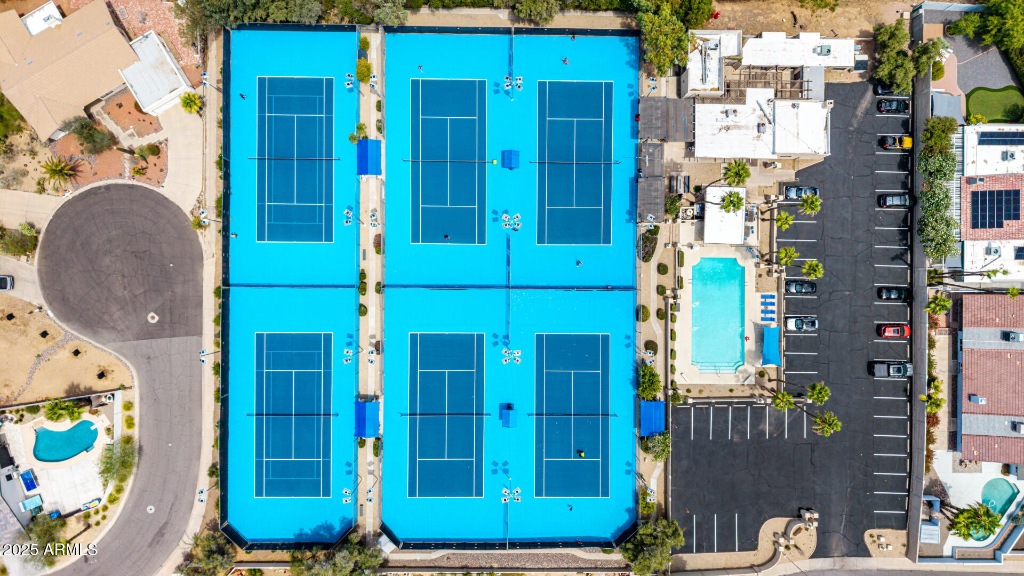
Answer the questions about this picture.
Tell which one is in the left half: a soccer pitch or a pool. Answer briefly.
pool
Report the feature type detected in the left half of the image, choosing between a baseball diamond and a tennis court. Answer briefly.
tennis court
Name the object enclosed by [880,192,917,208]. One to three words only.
car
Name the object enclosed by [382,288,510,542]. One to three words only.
tennis court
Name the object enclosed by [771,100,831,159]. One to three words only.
building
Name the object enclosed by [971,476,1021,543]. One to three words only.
swimming pool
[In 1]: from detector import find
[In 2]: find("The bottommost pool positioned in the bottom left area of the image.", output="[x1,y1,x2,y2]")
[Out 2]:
[31,418,99,463]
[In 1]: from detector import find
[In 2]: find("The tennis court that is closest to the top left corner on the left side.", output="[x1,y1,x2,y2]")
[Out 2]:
[229,30,360,287]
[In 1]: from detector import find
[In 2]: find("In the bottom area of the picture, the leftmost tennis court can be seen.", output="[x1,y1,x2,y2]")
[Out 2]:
[228,286,359,543]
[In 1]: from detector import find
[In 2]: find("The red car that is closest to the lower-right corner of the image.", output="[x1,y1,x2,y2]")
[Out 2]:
[880,324,913,339]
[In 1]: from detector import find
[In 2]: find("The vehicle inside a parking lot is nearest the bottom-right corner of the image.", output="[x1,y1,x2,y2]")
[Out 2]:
[872,362,914,378]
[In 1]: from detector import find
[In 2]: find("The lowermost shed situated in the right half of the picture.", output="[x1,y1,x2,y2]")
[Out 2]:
[920,520,940,544]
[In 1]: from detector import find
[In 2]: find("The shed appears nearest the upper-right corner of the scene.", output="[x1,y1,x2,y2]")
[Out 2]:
[924,23,943,45]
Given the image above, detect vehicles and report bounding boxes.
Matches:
[880,324,913,339]
[880,192,917,208]
[877,82,912,96]
[879,97,912,113]
[787,280,820,295]
[787,316,821,332]
[787,184,821,199]
[0,276,13,290]
[879,285,914,301]
[872,362,914,378]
